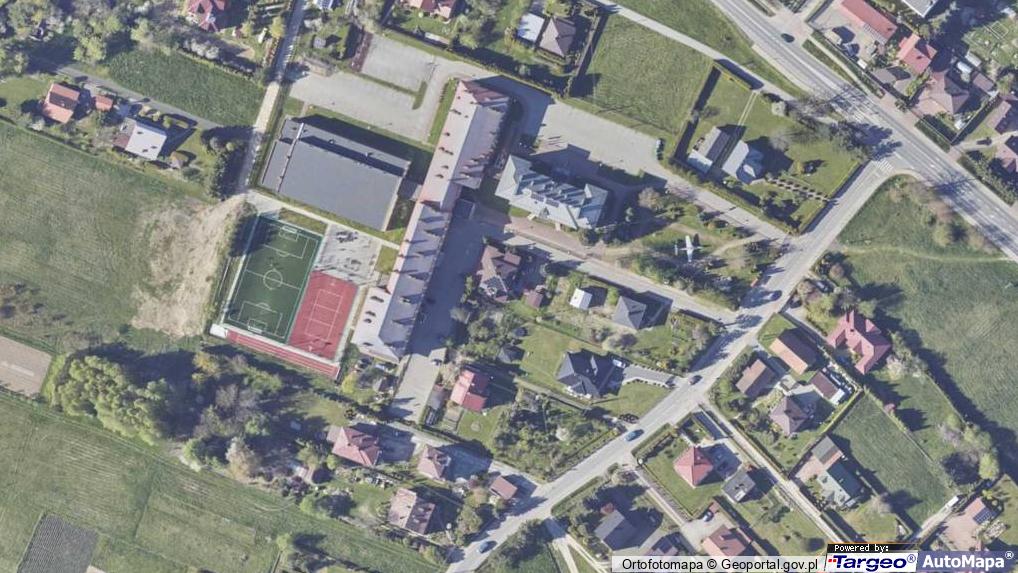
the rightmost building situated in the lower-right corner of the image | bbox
[969,497,998,525]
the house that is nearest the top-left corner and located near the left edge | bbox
[43,83,80,123]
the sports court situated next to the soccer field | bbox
[288,271,359,360]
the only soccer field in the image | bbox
[223,215,323,343]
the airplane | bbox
[676,236,703,262]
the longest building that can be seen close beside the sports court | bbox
[352,81,509,362]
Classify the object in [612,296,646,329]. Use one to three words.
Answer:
house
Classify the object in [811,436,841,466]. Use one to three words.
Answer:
building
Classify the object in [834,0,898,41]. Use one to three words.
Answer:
building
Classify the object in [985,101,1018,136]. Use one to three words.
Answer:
house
